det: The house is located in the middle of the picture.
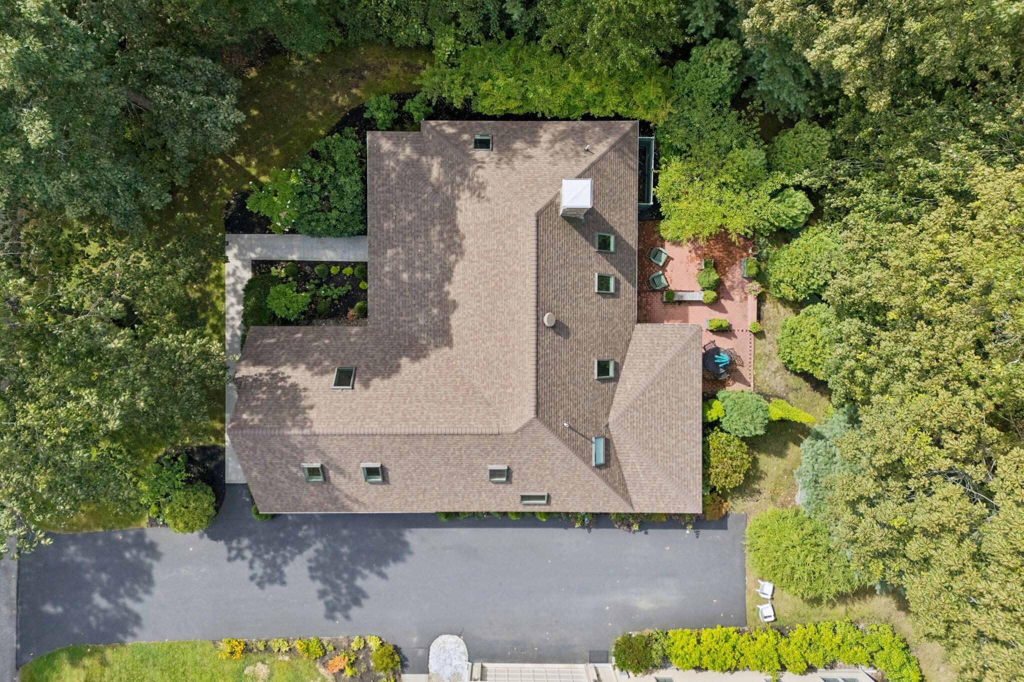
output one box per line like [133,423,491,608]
[228,119,704,515]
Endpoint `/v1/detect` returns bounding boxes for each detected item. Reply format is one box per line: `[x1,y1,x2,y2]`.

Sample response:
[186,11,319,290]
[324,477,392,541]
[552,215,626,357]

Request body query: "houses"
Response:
[452,655,877,682]
[228,119,704,515]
